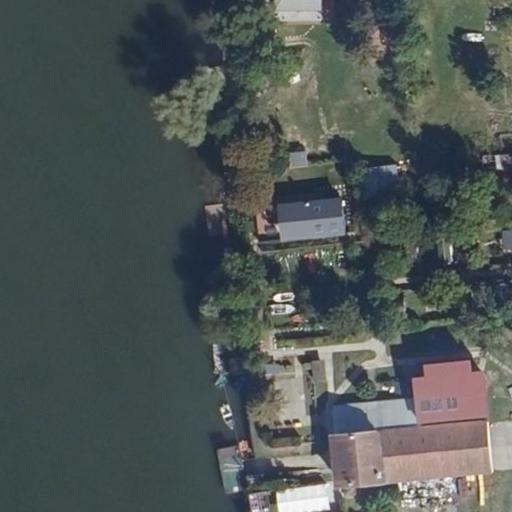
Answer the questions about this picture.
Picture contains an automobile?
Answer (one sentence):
No, no automobile can be seen from above.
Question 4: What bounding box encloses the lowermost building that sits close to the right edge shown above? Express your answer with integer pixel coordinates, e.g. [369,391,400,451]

[378,420,494,486]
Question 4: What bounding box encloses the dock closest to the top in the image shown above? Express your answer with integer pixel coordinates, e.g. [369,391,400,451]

[205,204,228,240]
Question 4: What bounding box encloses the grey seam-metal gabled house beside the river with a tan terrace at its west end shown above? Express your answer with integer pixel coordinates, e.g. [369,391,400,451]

[276,196,347,246]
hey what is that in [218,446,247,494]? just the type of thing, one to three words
pier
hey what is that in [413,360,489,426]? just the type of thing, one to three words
building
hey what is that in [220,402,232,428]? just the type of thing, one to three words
boat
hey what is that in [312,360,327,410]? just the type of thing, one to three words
shed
